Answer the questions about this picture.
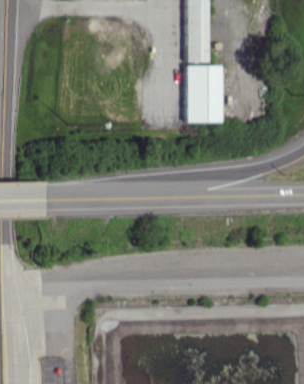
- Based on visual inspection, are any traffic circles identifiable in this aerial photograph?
No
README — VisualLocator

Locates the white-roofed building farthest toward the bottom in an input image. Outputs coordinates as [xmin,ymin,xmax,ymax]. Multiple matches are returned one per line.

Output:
[184,65,224,123]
